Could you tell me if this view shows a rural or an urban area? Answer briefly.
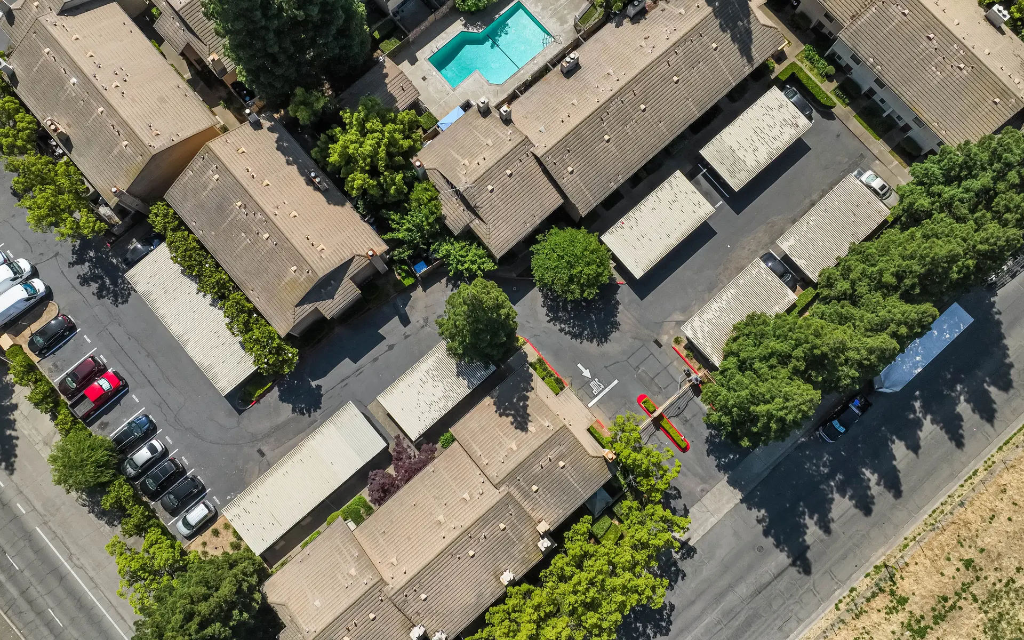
urban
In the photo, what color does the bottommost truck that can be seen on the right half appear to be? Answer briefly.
black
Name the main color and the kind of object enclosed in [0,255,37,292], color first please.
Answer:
white van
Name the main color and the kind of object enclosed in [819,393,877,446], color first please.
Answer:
black truck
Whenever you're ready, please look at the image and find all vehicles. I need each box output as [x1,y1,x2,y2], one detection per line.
[855,166,903,215]
[0,255,37,292]
[107,414,157,464]
[55,354,107,401]
[24,312,75,357]
[819,393,877,446]
[0,273,53,330]
[121,230,168,270]
[767,82,813,120]
[759,249,804,296]
[64,374,126,425]
[156,472,208,519]
[175,496,219,535]
[136,455,188,502]
[117,435,170,483]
